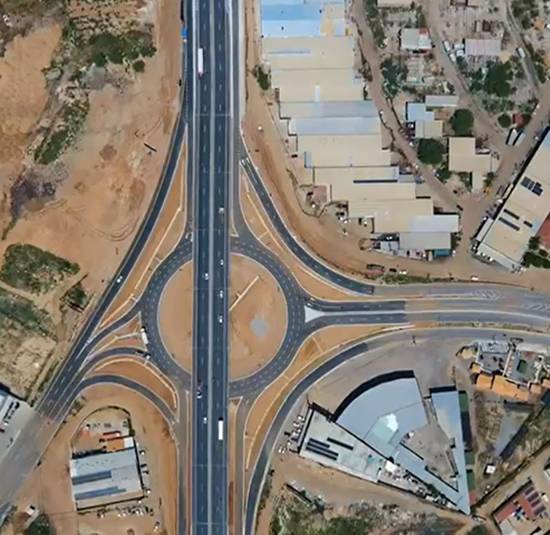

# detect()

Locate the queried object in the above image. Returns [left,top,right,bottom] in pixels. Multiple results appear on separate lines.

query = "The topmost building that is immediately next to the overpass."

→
[262,0,346,37]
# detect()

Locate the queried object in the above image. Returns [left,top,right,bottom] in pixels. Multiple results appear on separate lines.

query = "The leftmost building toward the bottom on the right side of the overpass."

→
[300,412,387,481]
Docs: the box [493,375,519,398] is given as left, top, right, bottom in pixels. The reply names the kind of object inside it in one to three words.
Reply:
house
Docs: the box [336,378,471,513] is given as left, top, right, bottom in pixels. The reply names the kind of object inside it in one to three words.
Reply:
building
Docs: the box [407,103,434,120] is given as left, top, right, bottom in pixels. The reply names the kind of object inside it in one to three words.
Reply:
house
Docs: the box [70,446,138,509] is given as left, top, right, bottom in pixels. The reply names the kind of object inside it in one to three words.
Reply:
building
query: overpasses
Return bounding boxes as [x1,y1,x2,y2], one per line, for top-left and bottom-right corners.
[191,0,233,535]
